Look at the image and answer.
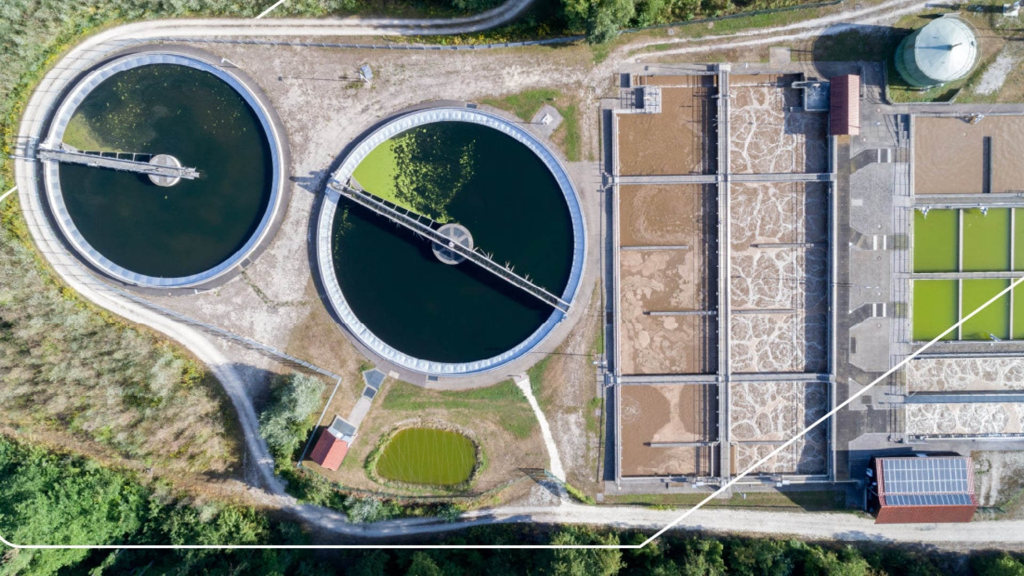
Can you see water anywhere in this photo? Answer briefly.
Yes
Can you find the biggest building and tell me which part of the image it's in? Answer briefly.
bottom right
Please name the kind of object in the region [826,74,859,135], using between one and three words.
shed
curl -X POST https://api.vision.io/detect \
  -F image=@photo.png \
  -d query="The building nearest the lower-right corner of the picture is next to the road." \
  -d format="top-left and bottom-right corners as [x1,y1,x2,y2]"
[865,452,982,524]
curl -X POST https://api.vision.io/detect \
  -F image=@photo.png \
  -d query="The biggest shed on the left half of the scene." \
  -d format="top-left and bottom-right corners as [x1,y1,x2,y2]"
[311,430,349,470]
